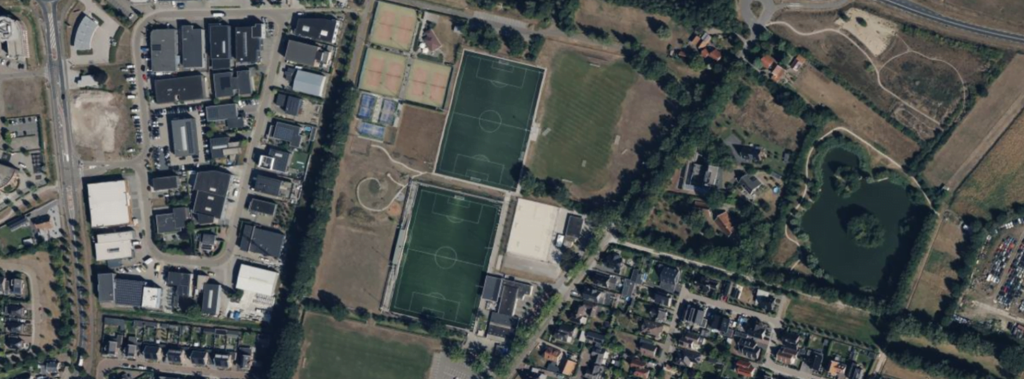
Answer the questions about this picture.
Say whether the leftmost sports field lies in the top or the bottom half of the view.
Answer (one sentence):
It is in the bottom half that the leftmost sports field appears.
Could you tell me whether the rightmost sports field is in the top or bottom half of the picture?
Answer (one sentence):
The rightmost sports field sits in the top half of the picture.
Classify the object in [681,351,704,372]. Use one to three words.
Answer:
house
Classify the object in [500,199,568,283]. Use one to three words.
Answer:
sports court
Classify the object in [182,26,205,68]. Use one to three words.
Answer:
building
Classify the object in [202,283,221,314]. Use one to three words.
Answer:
building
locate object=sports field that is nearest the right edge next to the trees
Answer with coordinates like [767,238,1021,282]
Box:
[522,49,668,200]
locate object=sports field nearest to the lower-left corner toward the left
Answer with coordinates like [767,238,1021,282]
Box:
[292,312,434,379]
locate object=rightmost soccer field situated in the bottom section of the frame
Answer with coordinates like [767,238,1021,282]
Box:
[390,184,502,328]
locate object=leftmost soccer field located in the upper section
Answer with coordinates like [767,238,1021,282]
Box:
[437,52,540,190]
